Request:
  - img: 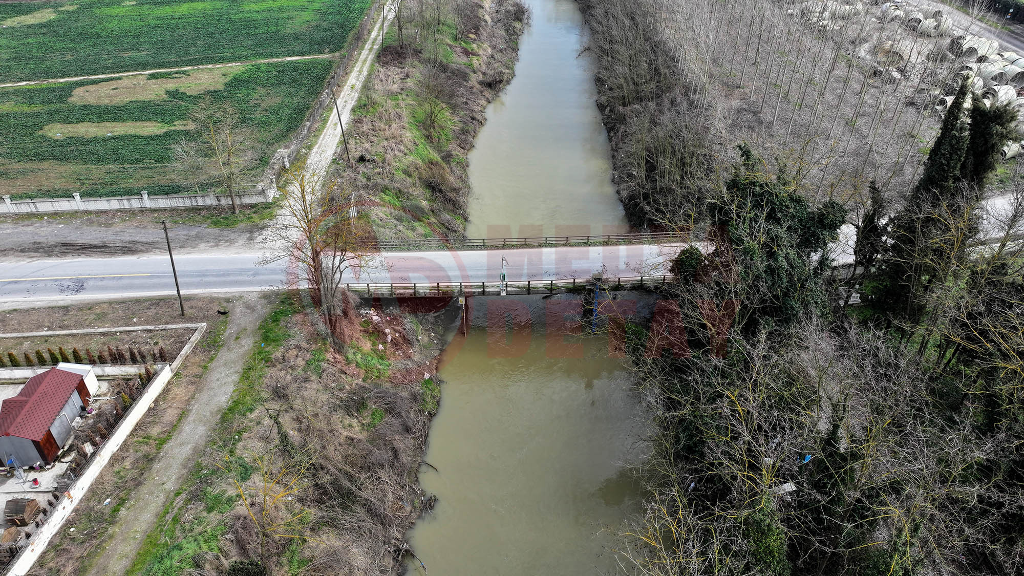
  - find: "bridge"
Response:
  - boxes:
[348,228,717,315]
